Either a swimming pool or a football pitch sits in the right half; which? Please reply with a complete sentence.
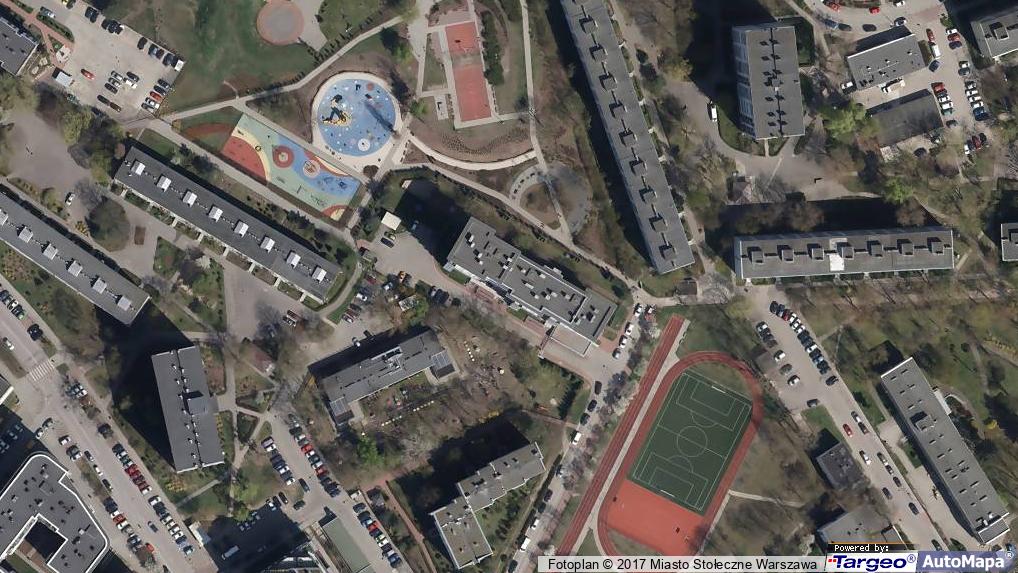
Looking in the right half, you will find a football pitch.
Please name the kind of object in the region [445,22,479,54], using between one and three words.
sports court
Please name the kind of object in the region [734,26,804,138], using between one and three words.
building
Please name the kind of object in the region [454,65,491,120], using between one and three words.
sports court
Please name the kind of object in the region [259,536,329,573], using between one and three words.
building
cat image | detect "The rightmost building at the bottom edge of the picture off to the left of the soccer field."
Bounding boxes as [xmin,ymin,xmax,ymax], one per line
[430,438,546,568]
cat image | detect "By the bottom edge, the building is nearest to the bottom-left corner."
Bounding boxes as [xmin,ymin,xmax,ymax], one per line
[0,450,113,573]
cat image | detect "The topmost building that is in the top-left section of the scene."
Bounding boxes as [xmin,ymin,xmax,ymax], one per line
[0,15,38,75]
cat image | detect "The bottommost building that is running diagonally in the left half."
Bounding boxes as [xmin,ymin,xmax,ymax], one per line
[322,515,379,573]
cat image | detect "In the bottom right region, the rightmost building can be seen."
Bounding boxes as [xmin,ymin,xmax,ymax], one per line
[875,355,1010,545]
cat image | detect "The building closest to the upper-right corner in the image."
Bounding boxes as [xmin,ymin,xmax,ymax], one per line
[968,5,1018,59]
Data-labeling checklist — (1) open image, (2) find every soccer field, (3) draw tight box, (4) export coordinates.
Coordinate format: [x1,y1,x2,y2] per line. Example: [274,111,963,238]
[628,369,755,513]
